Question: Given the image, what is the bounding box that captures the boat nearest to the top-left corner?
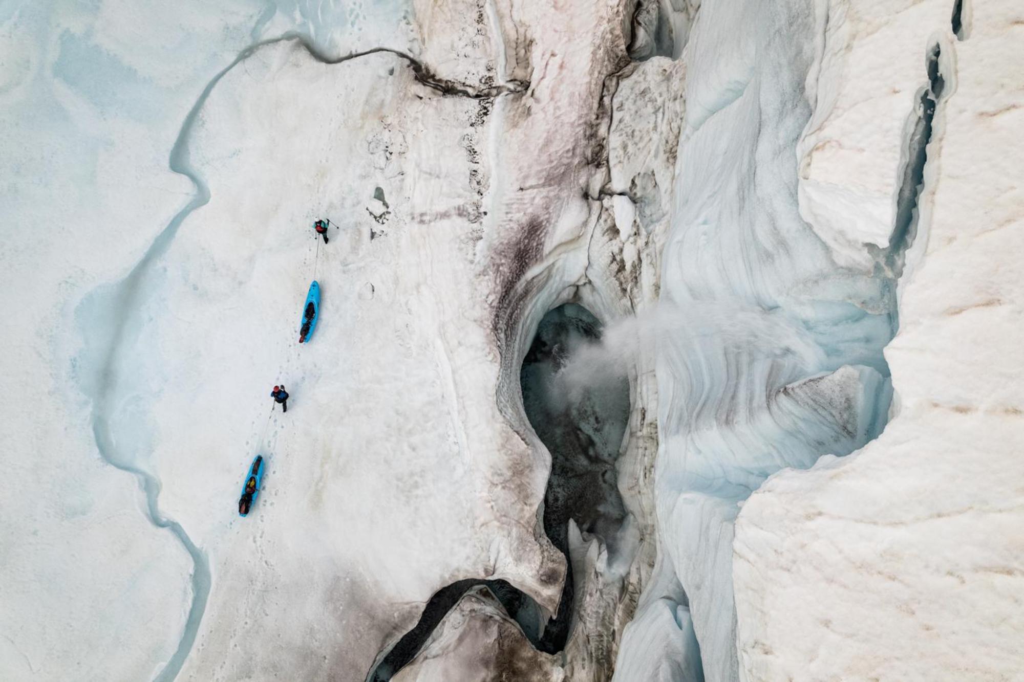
[300,281,319,342]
